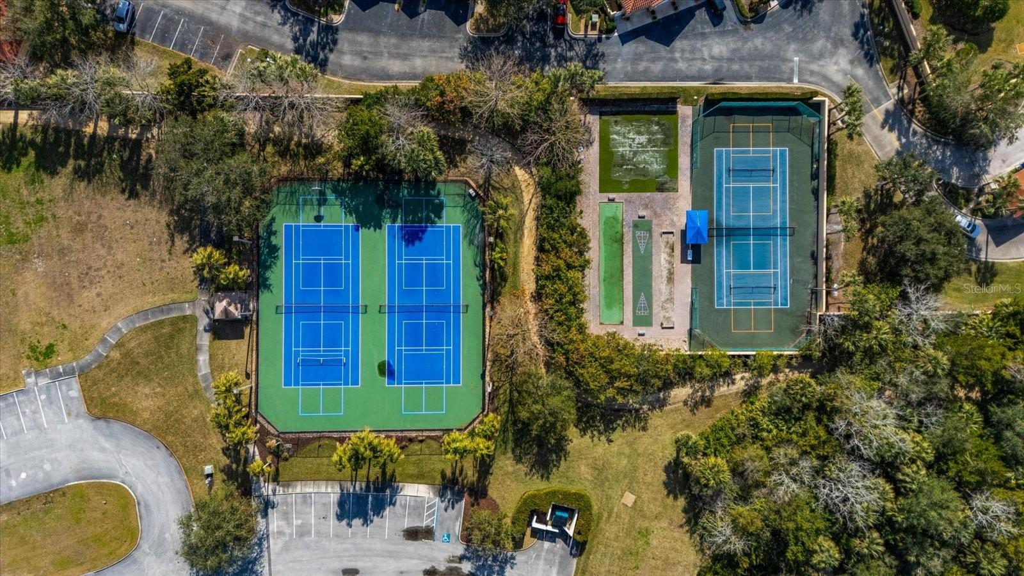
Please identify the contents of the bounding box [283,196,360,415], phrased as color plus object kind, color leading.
blue tennis court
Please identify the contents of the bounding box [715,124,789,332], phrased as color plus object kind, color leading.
blue tennis court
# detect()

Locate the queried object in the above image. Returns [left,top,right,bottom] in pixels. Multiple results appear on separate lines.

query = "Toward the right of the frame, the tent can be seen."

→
[683,210,708,245]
